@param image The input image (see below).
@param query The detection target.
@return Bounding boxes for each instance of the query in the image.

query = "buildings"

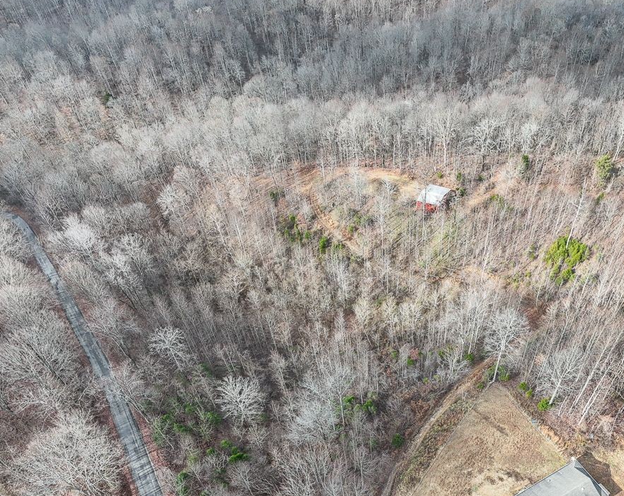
[414,183,459,216]
[518,454,606,496]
